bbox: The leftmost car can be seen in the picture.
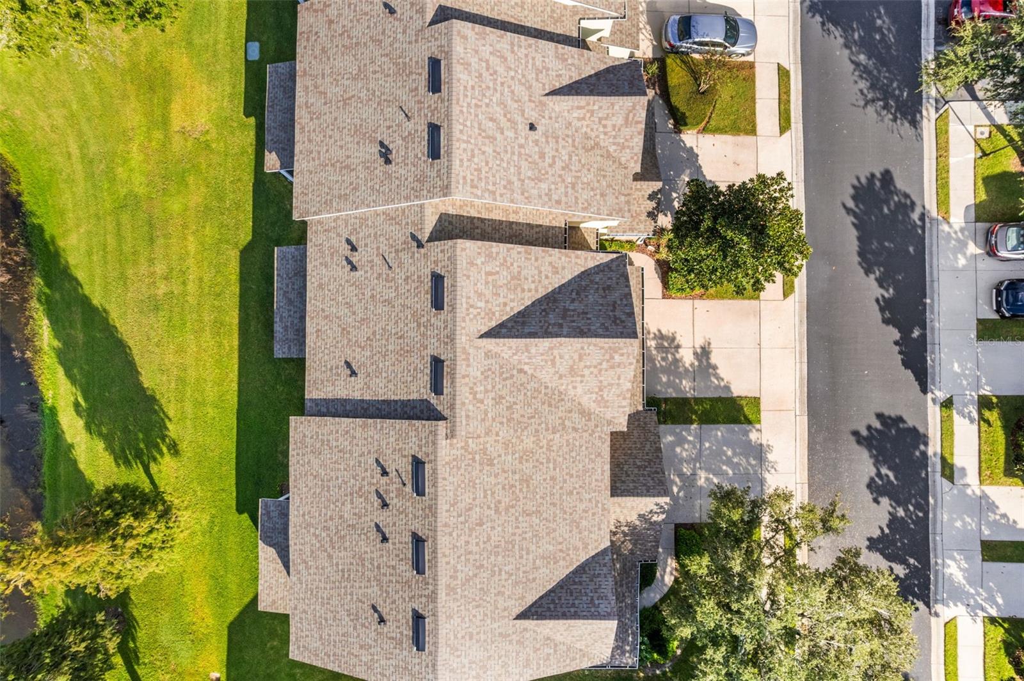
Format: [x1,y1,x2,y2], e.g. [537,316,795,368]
[662,11,757,59]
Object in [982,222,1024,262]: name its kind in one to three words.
car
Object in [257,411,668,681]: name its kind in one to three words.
house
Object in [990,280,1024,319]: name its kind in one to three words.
car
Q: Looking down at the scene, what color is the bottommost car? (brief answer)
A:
black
